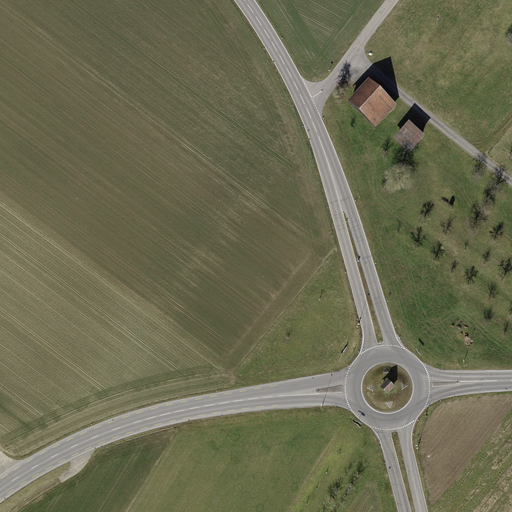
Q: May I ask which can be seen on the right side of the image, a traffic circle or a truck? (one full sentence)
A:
It is a traffic circle that can be seen on the right side of the image.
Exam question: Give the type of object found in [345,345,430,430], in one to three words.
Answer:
roundabout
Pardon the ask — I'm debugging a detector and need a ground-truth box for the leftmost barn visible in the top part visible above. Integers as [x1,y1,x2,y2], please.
[348,78,397,126]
